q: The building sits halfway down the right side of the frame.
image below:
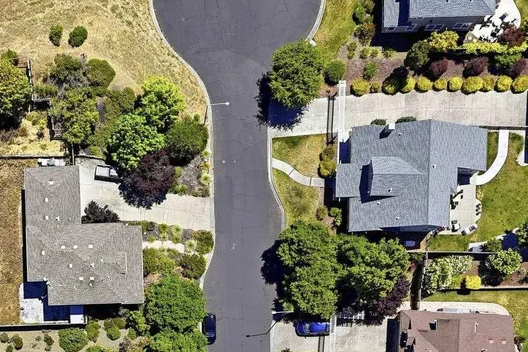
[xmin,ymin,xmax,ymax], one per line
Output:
[333,120,489,231]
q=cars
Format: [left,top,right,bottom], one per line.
[298,320,330,337]
[202,311,218,345]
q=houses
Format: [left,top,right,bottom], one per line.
[390,310,517,352]
[380,0,495,33]
[333,120,489,231]
[23,165,144,304]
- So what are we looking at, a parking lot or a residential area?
residential area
